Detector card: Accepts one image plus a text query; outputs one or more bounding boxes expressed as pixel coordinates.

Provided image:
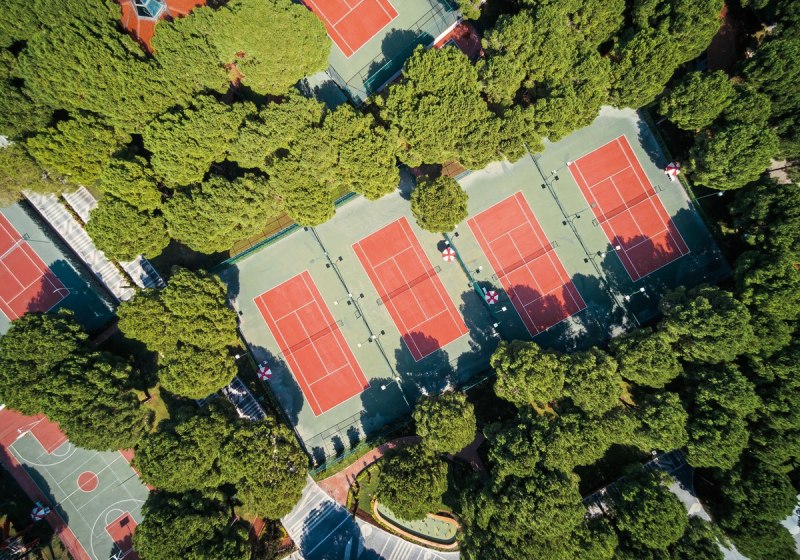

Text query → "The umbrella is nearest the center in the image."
[441,248,455,262]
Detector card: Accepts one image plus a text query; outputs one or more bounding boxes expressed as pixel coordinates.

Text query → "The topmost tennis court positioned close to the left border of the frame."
[0,171,123,356]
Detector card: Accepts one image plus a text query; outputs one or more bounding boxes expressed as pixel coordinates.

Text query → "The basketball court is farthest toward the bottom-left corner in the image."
[0,376,189,560]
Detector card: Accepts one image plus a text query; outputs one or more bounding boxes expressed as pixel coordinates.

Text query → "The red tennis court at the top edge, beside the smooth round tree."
[273,0,455,105]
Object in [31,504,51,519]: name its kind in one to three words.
umbrella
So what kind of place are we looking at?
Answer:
sports ground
